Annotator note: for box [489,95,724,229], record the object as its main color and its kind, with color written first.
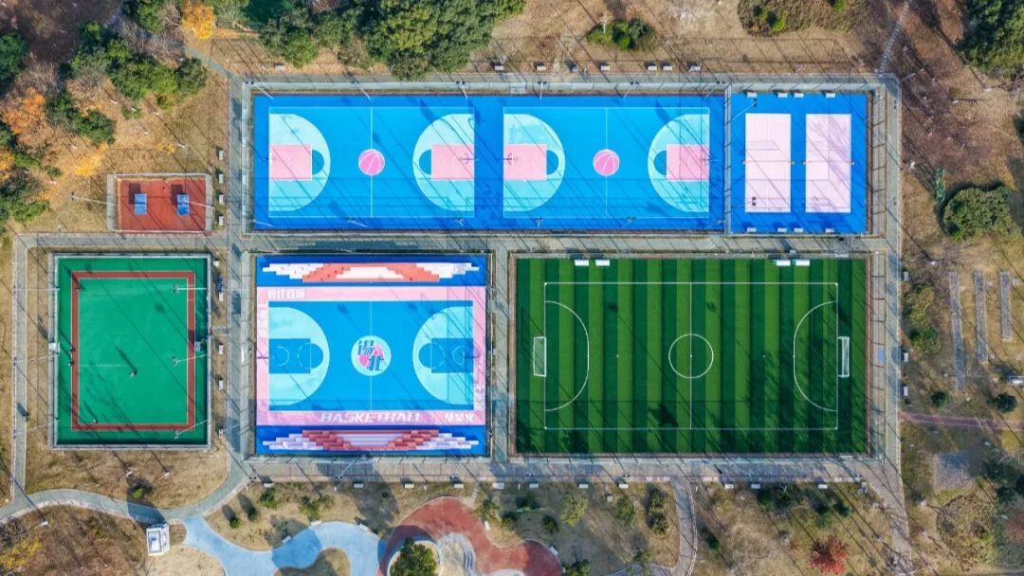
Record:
blue basketball court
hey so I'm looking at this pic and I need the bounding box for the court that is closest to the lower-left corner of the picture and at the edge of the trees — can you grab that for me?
[50,254,210,448]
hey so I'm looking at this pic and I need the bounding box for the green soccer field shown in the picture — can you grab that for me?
[517,259,867,454]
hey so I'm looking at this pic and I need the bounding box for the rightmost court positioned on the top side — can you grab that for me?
[799,93,867,231]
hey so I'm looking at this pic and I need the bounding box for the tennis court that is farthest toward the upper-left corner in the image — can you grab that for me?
[106,174,213,232]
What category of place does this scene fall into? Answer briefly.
sports ground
